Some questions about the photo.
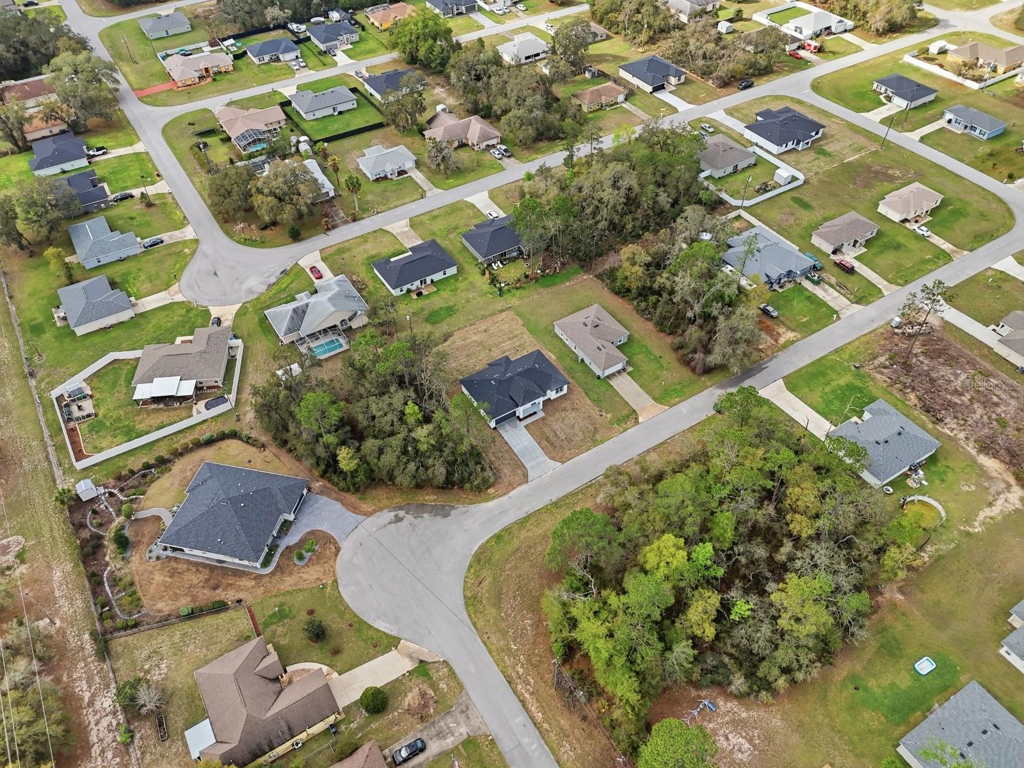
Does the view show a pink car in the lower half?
No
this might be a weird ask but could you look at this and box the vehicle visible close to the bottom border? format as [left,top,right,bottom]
[389,732,429,768]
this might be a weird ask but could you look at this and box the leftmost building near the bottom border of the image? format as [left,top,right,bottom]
[193,639,338,768]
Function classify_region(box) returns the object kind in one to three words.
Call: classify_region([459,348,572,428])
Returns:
house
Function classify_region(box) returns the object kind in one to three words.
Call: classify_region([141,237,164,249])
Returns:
vehicle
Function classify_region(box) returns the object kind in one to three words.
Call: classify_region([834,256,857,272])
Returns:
car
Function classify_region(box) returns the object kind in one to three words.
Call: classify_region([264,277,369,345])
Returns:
building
